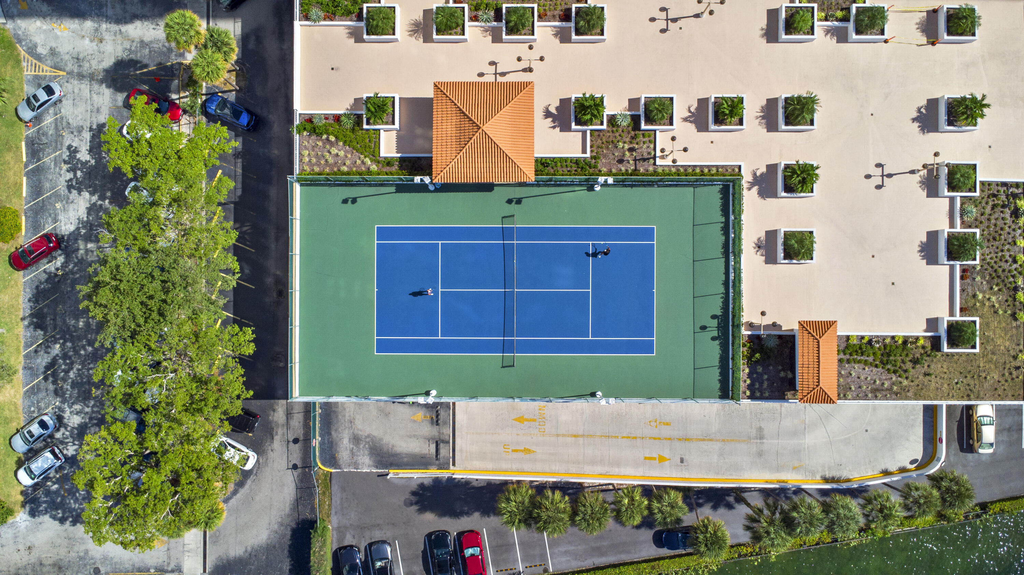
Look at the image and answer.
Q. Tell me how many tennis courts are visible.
one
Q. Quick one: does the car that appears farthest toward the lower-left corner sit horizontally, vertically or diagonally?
diagonally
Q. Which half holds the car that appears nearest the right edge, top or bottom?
bottom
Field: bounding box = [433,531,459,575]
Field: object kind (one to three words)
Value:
car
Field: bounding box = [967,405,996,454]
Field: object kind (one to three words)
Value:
car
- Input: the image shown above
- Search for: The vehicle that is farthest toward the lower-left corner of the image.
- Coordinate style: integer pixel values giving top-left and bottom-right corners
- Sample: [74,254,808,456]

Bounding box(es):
[16,445,67,488]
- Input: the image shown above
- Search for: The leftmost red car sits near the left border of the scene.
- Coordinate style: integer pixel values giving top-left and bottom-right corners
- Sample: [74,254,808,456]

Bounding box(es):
[10,231,62,271]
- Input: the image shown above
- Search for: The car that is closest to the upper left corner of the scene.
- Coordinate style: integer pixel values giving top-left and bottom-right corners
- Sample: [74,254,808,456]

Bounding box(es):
[16,79,67,122]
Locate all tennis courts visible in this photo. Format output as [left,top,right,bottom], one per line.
[300,182,730,397]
